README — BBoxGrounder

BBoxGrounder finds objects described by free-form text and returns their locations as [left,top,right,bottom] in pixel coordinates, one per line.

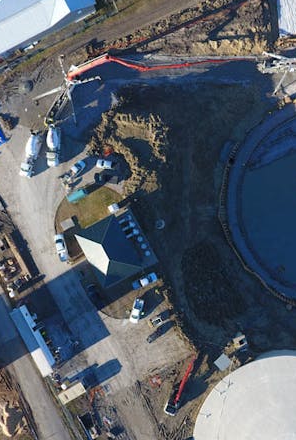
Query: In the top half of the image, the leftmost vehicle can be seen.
[17,130,42,177]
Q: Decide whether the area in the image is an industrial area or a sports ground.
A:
industrial area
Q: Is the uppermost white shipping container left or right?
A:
left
